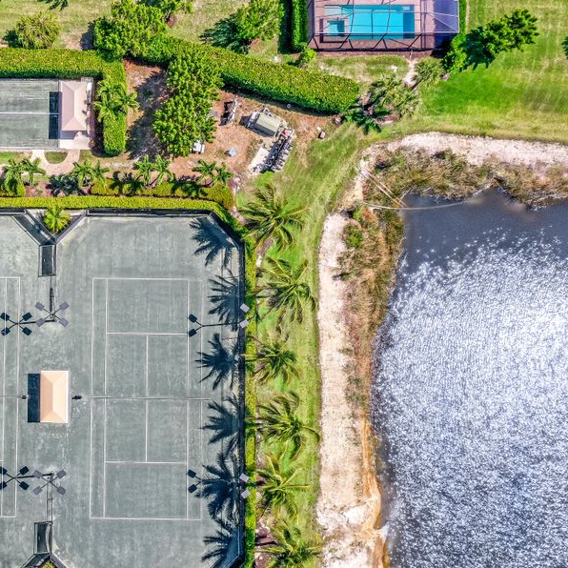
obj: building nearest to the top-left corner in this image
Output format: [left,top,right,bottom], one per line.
[60,80,87,137]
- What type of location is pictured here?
sports ground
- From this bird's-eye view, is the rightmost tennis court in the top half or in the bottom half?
bottom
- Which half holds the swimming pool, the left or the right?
right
